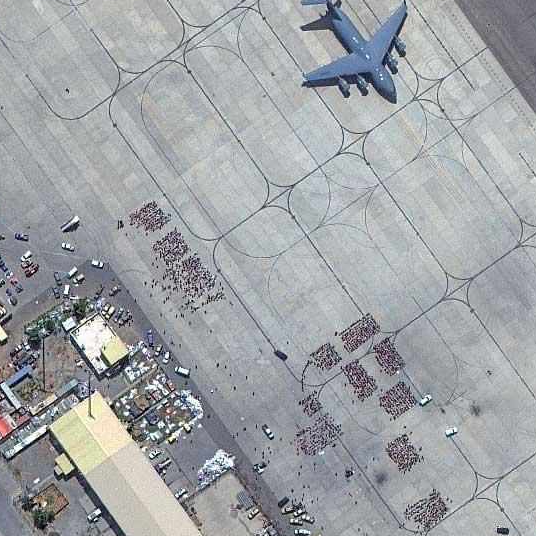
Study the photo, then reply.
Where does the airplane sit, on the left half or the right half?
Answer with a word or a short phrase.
right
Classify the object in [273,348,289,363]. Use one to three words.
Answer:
vehicle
